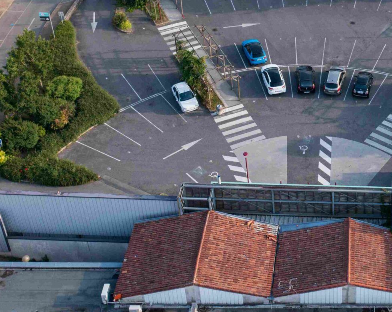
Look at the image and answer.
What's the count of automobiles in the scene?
six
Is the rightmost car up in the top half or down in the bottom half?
top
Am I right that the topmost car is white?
No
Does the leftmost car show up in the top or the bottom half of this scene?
top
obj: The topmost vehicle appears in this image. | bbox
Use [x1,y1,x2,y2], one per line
[240,37,267,66]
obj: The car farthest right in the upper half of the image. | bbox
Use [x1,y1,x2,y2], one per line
[354,68,377,95]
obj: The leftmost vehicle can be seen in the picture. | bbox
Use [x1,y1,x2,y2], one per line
[169,77,197,110]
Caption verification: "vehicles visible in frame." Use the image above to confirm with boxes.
[262,64,286,93]
[169,77,197,110]
[295,65,315,93]
[324,63,348,94]
[354,68,377,95]
[240,37,267,66]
